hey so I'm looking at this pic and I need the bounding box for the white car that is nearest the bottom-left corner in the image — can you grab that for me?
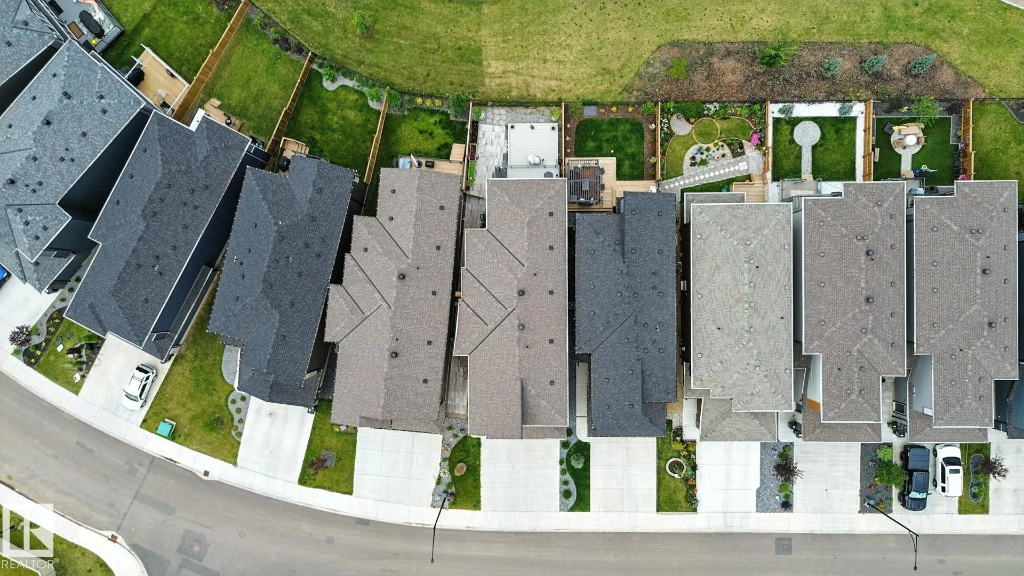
[118,362,158,415]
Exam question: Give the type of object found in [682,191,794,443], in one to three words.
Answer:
house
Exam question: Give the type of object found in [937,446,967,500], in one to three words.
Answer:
car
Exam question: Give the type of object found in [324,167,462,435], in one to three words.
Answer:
house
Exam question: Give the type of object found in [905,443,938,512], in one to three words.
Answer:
truck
